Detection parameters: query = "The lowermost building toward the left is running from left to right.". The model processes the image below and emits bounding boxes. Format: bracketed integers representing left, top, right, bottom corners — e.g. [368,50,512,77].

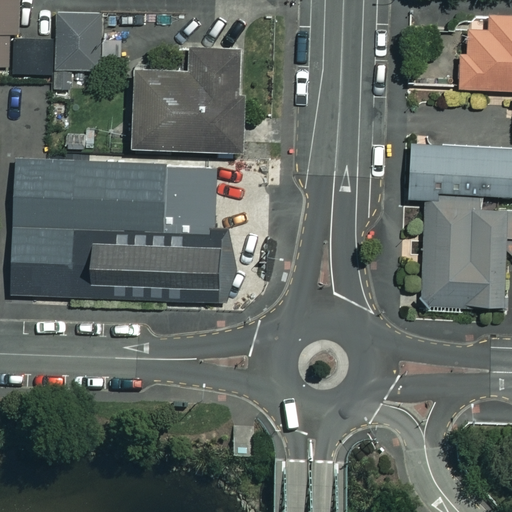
[10,229,237,303]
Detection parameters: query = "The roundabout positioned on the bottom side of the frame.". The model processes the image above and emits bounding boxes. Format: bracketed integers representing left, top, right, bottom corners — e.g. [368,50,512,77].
[298,340,348,390]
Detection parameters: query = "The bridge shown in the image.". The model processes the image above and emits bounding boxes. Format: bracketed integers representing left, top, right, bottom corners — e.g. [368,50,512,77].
[275,441,346,512]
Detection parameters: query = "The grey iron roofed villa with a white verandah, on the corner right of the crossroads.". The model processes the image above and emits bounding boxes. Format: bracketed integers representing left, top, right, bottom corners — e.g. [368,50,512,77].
[420,194,507,314]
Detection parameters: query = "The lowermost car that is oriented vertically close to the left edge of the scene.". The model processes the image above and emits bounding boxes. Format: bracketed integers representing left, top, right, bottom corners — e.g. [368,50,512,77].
[7,88,21,120]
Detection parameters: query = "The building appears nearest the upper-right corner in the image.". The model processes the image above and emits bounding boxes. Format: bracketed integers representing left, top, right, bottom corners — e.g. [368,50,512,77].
[458,15,512,92]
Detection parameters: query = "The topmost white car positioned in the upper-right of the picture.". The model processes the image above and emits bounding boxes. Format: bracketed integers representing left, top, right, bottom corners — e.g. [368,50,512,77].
[374,30,388,58]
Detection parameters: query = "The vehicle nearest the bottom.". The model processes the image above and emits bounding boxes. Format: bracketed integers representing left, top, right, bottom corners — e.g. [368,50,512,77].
[281,397,298,432]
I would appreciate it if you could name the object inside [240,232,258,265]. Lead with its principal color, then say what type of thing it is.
white car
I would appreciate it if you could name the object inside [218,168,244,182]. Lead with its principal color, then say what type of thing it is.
red car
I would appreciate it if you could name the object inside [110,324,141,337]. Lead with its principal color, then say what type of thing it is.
white vehicle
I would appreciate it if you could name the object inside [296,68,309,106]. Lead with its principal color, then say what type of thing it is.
white vehicle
